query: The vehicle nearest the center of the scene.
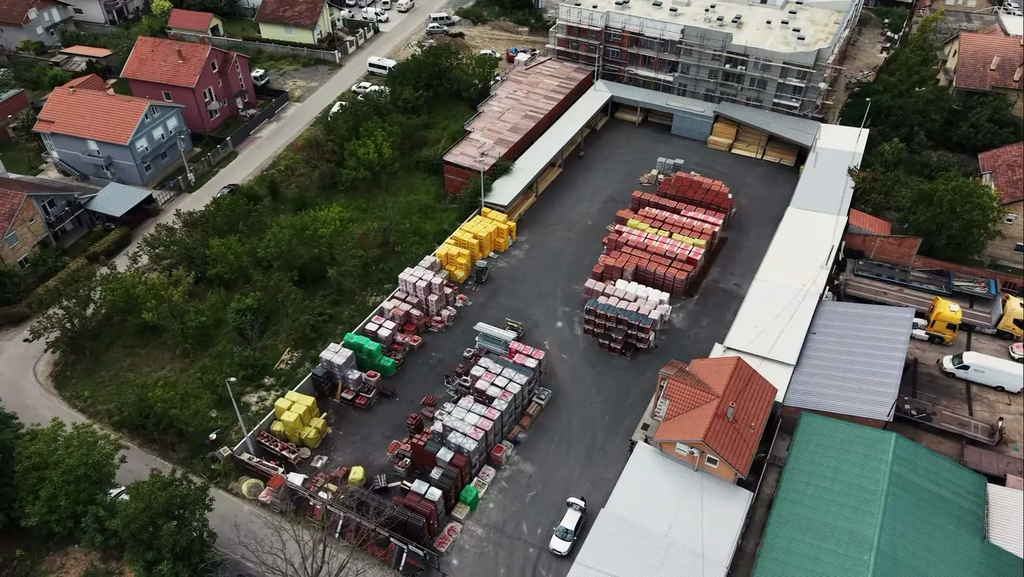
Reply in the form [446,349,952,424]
[466,260,492,292]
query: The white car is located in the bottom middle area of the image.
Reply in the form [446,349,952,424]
[549,488,588,557]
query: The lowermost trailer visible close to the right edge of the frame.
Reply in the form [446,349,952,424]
[895,395,1005,446]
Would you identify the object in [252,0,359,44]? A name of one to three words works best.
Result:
house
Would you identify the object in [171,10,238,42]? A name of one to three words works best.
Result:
house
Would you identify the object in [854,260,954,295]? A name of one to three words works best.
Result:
trailer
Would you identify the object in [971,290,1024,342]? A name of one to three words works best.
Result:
truck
